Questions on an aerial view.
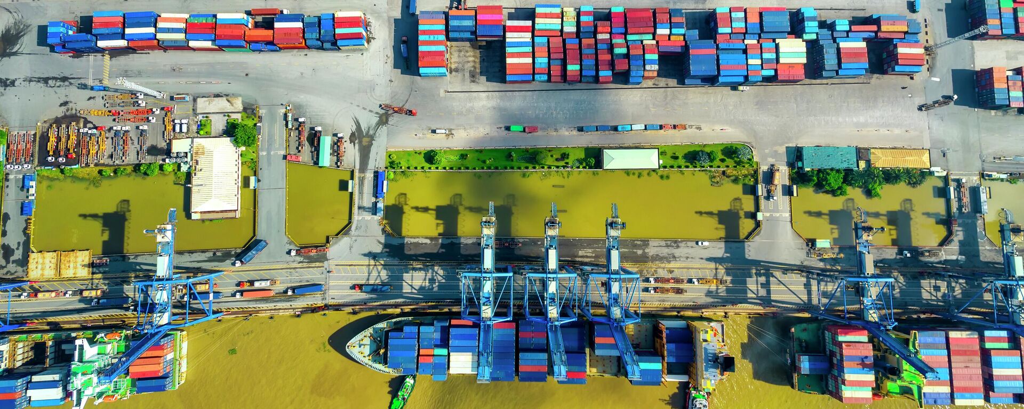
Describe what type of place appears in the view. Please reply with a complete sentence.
The area seen from above is a port.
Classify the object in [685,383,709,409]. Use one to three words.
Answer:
boat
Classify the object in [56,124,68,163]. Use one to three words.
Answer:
vehicle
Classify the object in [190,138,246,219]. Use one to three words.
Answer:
building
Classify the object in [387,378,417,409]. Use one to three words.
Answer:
boat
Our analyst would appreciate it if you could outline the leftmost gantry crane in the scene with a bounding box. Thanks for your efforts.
[0,281,45,335]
